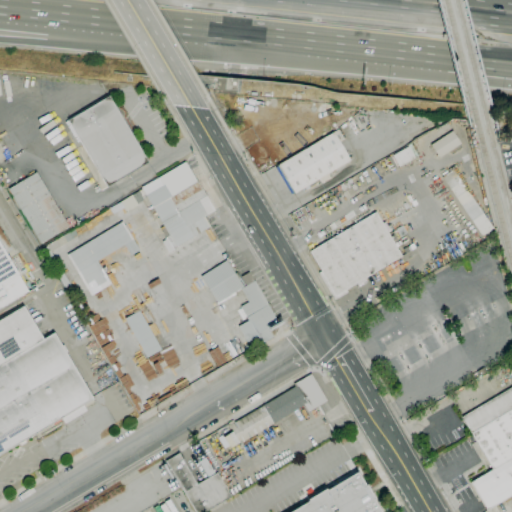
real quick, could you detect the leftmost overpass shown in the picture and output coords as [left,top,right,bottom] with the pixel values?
[105,0,230,128]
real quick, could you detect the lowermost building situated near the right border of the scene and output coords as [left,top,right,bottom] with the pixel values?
[470,456,512,510]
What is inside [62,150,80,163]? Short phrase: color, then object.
white vehicle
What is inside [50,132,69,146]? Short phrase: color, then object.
white vehicle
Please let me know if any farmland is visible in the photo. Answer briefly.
No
